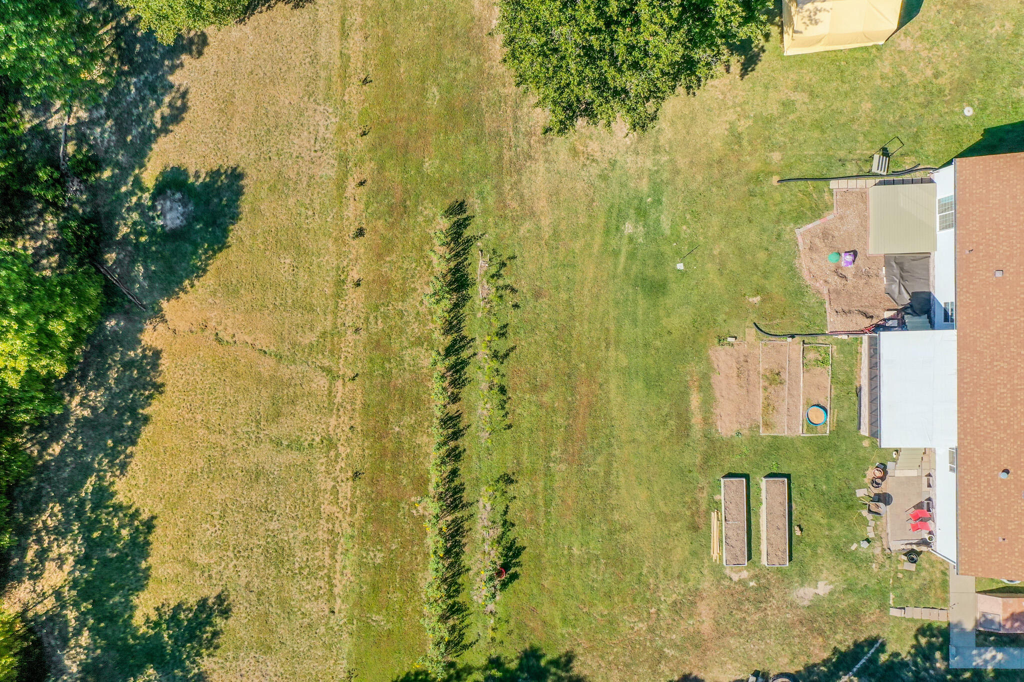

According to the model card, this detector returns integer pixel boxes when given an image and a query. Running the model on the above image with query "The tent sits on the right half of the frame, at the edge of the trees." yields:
[782,0,905,54]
